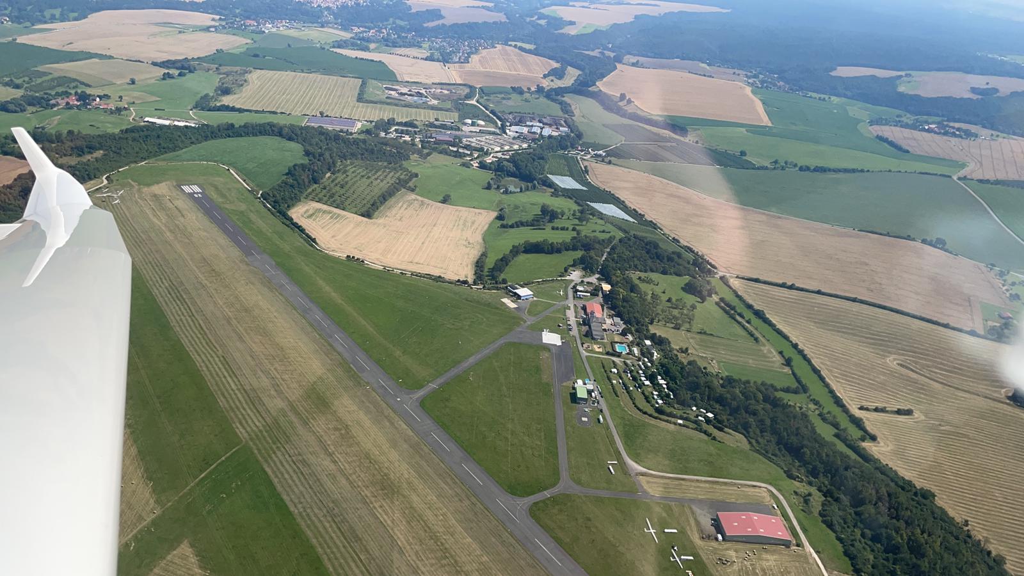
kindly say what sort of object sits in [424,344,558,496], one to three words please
airport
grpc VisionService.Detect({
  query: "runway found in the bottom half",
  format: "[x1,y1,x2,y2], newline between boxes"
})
[178,183,588,576]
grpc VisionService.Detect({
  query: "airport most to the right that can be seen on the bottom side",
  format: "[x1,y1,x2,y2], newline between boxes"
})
[574,310,846,576]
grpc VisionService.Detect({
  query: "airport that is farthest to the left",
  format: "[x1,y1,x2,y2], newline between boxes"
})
[88,194,295,576]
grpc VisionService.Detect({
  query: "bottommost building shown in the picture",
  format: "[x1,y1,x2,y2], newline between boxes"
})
[716,512,792,544]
